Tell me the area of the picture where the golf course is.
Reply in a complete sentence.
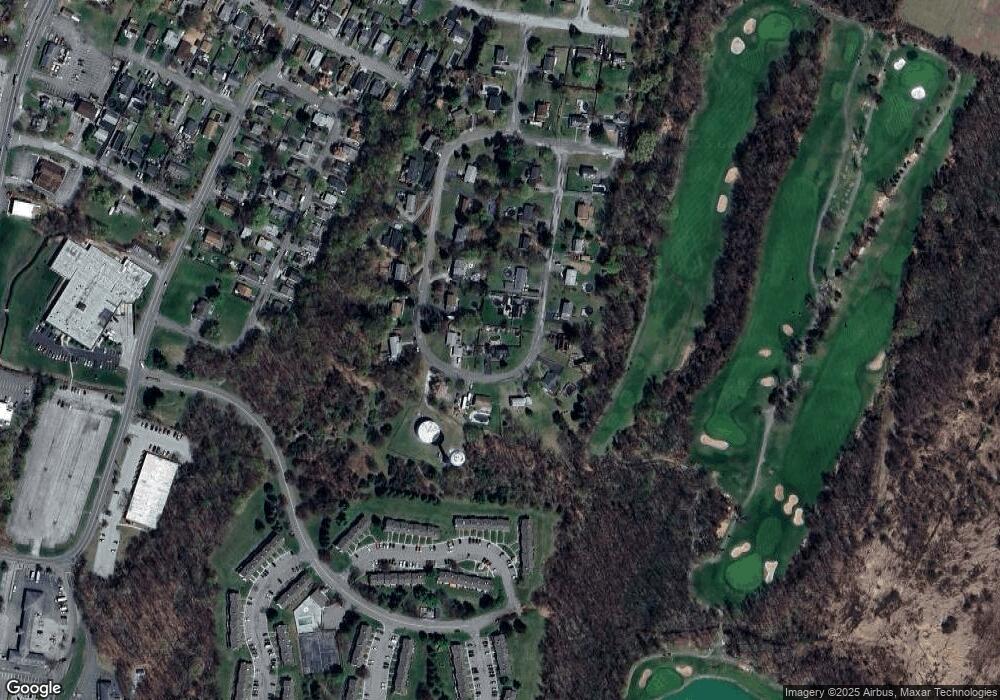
The golf course sits in the right section of the image.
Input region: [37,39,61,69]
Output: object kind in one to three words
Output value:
building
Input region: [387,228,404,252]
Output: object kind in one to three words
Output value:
house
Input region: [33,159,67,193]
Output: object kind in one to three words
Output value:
building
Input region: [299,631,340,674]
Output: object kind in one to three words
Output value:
tennis court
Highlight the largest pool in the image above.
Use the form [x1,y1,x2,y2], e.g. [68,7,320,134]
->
[294,597,322,633]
